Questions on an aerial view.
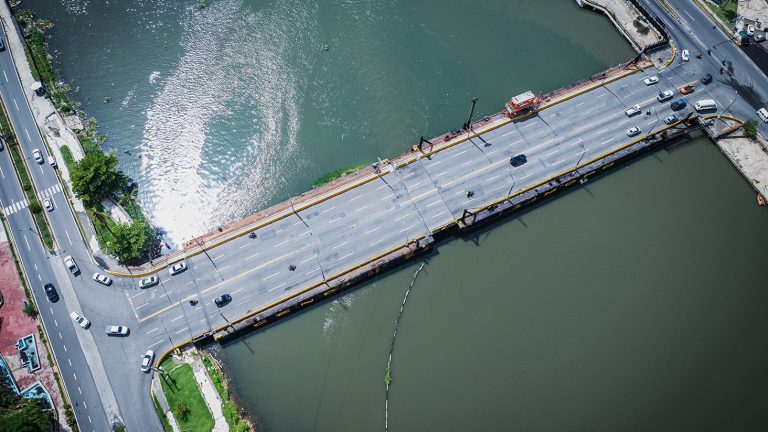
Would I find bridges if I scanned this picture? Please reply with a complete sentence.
Yes, a bridge can be made out from above.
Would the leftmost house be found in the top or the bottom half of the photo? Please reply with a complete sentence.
The leftmost house sits in the top half of the picture.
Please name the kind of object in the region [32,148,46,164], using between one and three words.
car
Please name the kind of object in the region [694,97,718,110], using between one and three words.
vehicle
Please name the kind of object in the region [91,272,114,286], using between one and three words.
car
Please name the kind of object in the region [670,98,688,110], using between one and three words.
vehicle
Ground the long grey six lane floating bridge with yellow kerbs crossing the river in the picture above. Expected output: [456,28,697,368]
[103,39,744,369]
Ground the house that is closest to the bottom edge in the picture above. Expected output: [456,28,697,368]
[502,92,537,114]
